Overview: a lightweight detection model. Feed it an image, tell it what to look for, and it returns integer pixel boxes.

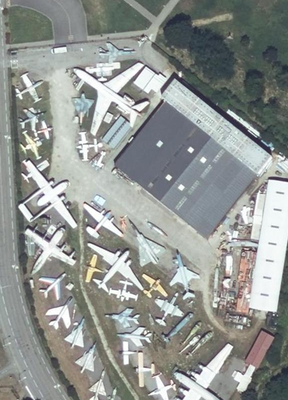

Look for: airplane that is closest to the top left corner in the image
[15,72,43,102]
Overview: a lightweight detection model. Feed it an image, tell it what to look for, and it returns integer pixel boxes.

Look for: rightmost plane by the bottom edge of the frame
[174,344,234,400]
